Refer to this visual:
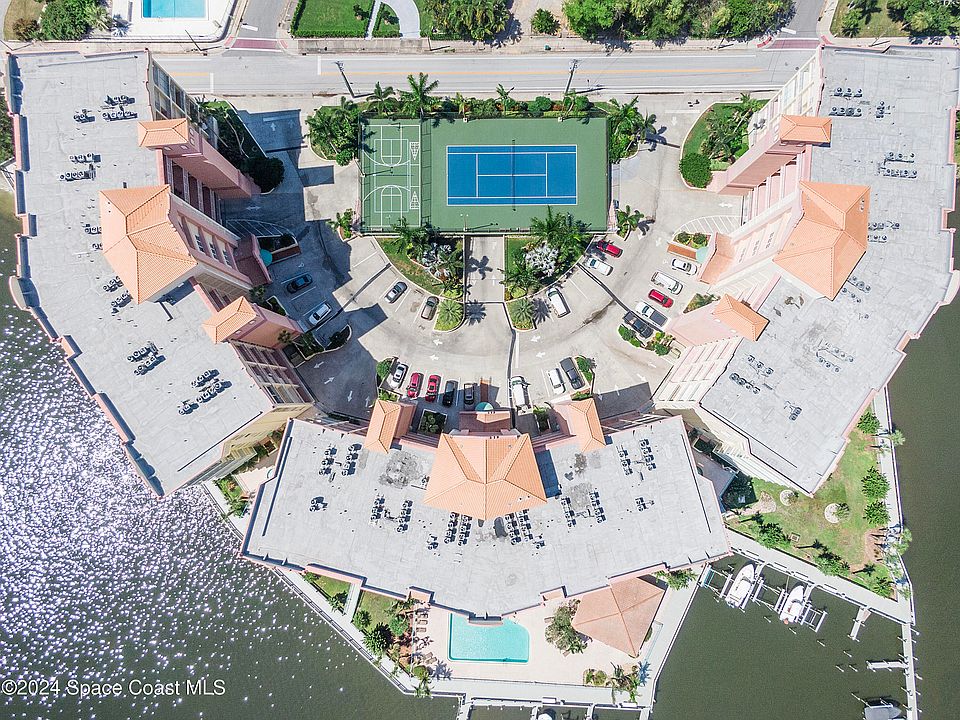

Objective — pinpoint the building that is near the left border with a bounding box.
[6,50,318,502]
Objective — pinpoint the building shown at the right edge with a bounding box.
[654,46,960,497]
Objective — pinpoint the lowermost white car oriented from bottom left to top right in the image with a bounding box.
[387,362,409,388]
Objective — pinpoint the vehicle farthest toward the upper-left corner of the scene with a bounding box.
[287,273,313,293]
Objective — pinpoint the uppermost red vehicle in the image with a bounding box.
[595,238,621,258]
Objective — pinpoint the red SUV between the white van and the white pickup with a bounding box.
[648,289,673,308]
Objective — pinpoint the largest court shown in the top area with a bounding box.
[422,117,609,231]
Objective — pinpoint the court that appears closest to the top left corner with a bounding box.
[361,114,421,231]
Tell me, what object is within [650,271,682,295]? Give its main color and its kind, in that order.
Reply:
white vehicle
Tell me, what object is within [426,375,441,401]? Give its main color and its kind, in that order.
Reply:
red car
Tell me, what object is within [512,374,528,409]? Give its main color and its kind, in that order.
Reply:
white vehicle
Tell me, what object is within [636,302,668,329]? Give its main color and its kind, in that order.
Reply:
white truck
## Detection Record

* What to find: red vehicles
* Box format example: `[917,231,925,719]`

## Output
[426,375,441,401]
[407,371,424,398]
[648,289,673,308]
[595,238,621,258]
